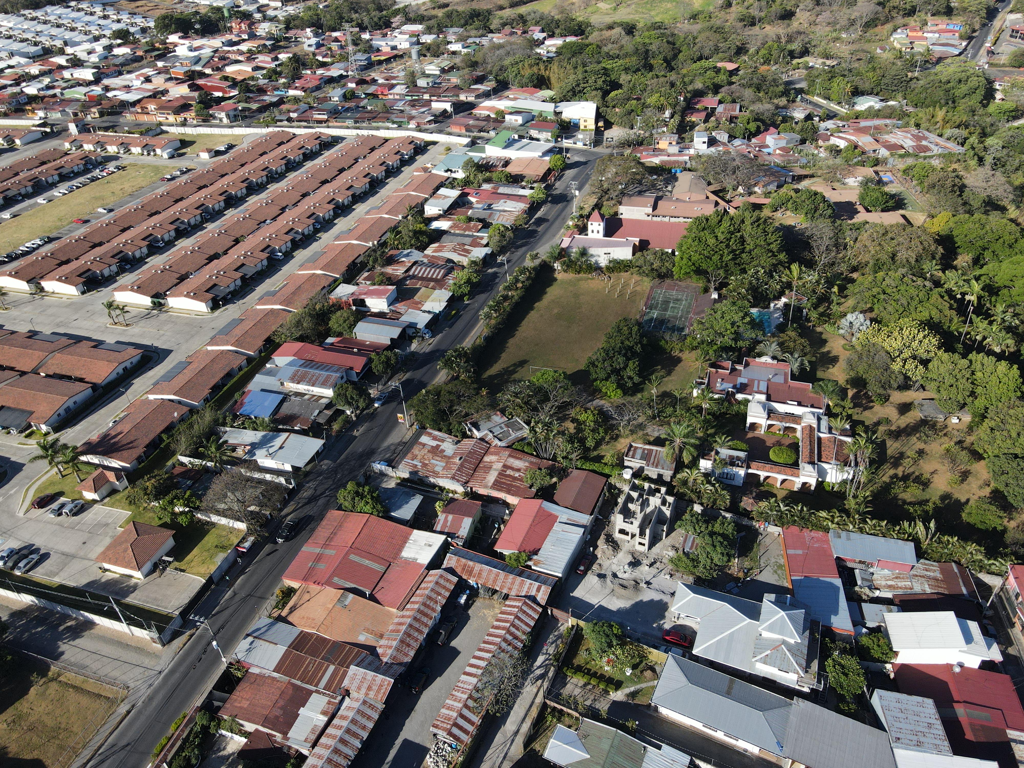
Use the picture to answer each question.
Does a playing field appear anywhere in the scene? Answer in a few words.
Yes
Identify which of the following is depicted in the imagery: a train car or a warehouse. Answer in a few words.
warehouse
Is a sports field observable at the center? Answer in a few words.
Yes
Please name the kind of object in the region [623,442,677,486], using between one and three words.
building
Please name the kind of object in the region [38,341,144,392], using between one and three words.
house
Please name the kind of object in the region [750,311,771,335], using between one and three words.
swimming pool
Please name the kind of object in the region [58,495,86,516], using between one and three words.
truck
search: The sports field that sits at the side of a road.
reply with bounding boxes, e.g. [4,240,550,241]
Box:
[493,265,674,401]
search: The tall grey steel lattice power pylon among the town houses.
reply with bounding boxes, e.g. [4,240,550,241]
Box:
[342,22,361,74]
